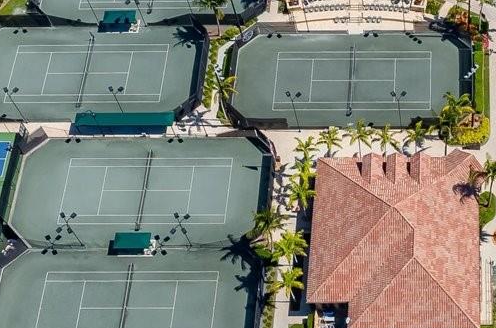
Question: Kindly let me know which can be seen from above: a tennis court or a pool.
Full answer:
The one in the frame is a tennis court.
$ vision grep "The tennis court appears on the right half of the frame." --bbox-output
[230,33,473,131]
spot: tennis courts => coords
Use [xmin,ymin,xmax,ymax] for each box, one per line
[38,0,268,27]
[230,33,473,131]
[0,26,211,123]
[11,138,277,248]
[0,248,266,328]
